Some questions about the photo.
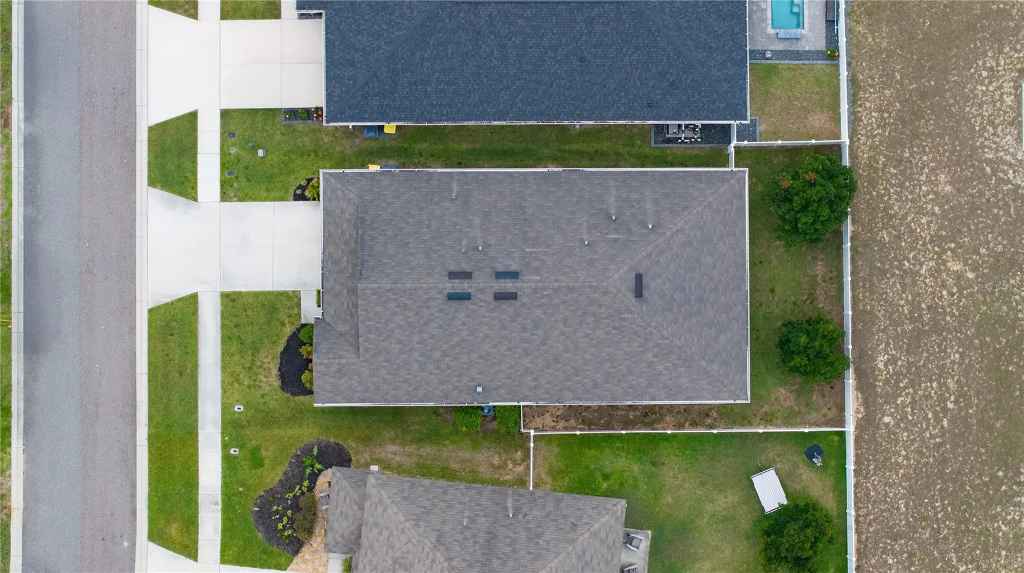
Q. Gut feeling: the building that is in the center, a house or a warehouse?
house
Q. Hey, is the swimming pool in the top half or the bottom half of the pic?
top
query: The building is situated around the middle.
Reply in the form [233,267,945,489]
[312,168,750,407]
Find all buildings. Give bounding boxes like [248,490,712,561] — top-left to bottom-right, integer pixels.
[296,0,749,124]
[312,168,750,407]
[324,467,626,573]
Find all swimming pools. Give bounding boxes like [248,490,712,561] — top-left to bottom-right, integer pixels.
[768,0,808,33]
